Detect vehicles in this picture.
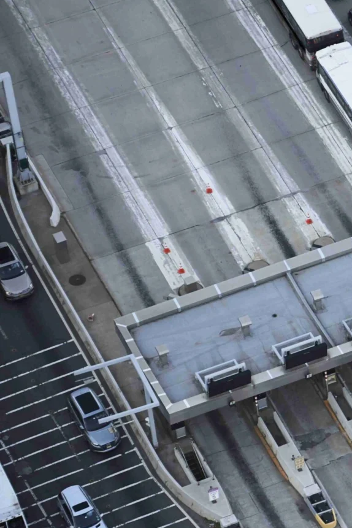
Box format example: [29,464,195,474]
[67,388,121,451]
[58,485,108,528]
[0,240,36,296]
[313,51,352,132]
[0,472,26,528]
[268,0,344,71]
